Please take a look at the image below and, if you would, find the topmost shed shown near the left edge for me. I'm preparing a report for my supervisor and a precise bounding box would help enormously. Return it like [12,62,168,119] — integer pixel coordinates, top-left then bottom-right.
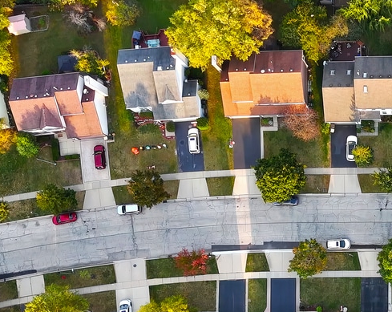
[6,14,35,37]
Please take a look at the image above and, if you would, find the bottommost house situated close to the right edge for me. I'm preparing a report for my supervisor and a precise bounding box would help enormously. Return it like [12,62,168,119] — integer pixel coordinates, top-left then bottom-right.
[320,56,392,124]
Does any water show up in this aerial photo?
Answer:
No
